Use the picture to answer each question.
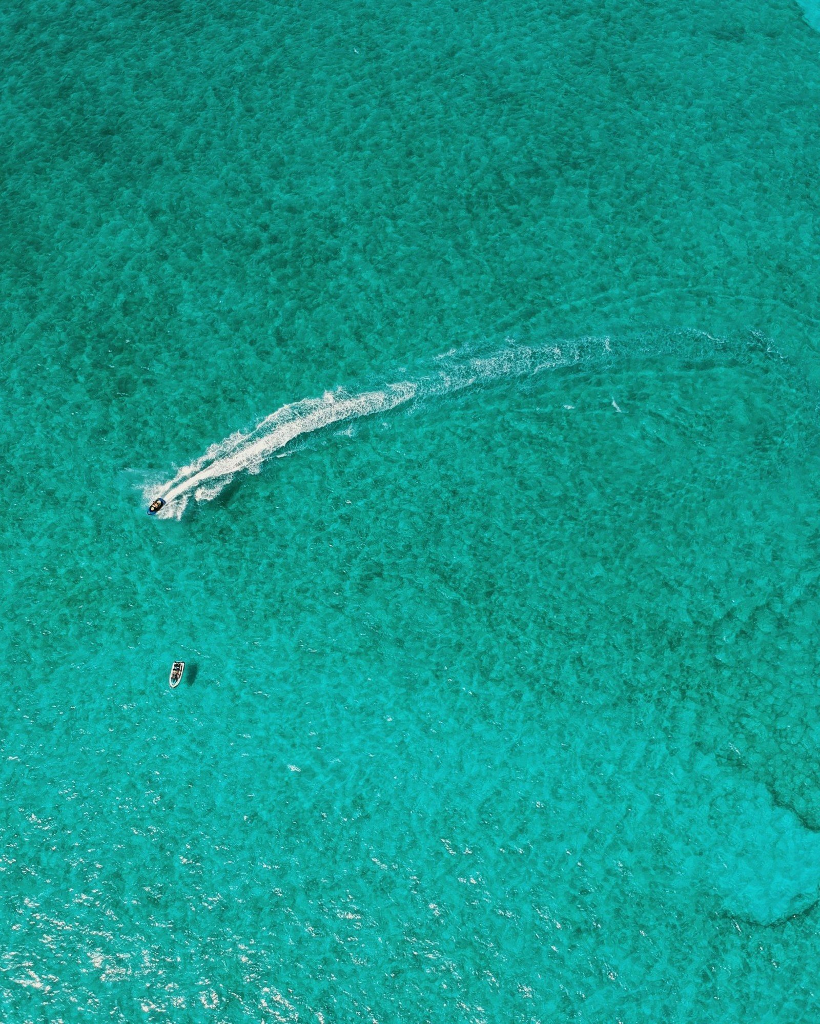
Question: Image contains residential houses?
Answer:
No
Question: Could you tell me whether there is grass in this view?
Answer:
No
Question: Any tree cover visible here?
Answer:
No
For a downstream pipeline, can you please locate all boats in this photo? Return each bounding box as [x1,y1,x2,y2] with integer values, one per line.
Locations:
[147,498,166,515]
[169,660,185,688]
